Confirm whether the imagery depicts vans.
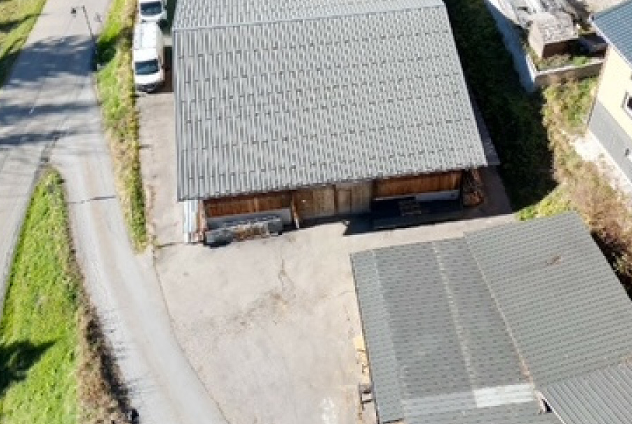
Yes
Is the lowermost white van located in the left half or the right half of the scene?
left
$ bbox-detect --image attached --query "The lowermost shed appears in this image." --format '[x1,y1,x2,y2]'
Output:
[348,211,632,424]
